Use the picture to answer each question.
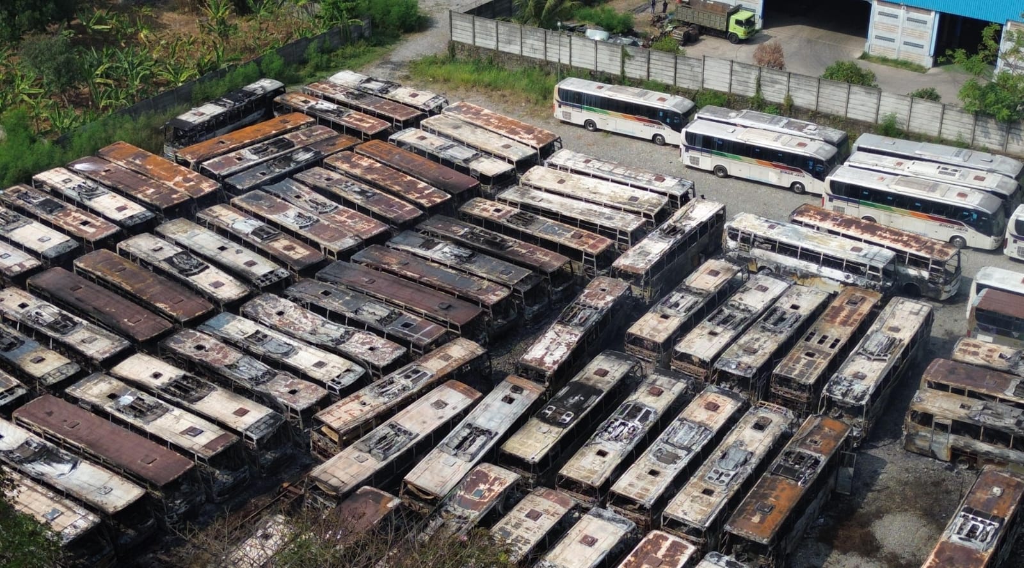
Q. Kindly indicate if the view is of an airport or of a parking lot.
parking lot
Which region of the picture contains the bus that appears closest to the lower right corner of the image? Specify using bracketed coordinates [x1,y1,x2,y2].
[928,467,1024,568]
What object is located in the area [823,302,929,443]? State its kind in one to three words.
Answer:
bus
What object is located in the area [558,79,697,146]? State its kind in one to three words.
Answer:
bus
